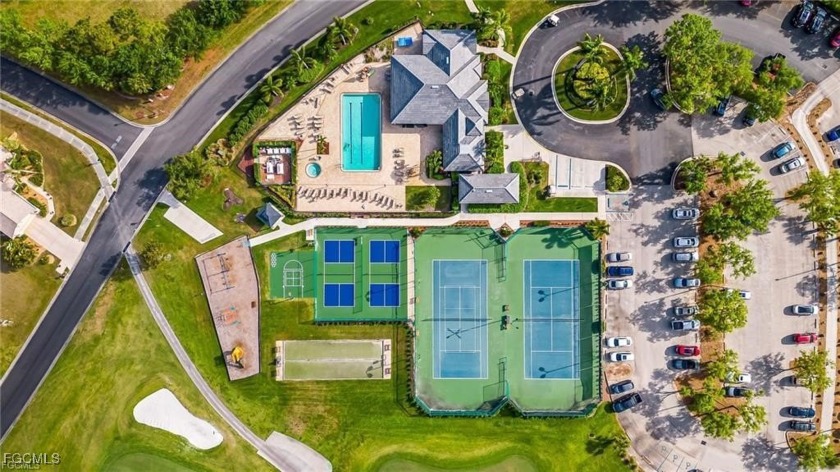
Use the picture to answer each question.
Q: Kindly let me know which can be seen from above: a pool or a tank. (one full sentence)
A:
I can see a pool in this picture.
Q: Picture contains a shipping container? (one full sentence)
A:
No, the frame has no shipping container in it.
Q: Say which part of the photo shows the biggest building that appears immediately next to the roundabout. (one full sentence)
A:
The biggest building that appears immediately next to the roundabout appears toward the top of the photo.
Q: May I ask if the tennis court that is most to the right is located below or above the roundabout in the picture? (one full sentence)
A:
The tennis court that is most to the right is located below the roundabout in this view.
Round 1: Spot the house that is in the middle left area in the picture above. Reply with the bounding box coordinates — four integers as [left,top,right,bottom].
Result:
[0,152,48,240]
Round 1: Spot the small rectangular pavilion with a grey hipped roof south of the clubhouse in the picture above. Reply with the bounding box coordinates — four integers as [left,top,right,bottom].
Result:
[459,174,519,204]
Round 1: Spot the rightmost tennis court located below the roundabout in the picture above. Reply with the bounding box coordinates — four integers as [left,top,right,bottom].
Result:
[505,229,600,410]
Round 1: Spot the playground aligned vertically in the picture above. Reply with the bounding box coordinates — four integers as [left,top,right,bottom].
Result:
[194,236,260,381]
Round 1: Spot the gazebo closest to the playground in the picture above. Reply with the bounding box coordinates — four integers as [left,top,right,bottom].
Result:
[253,202,281,229]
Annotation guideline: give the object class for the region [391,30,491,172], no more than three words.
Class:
building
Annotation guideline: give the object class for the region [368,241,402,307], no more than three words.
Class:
sports court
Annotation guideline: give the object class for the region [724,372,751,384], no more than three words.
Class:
vehicle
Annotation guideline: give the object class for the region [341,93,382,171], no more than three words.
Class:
swimming pool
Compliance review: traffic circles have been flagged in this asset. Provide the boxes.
[509,0,658,187]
